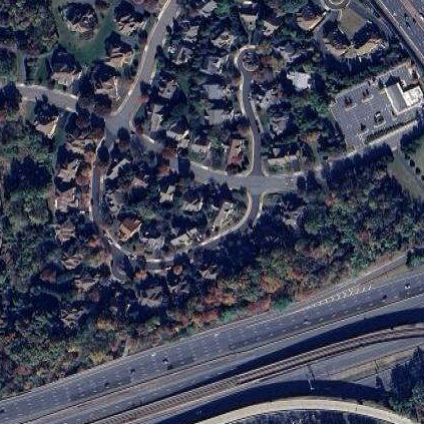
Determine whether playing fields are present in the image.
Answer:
No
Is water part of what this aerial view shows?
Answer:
No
